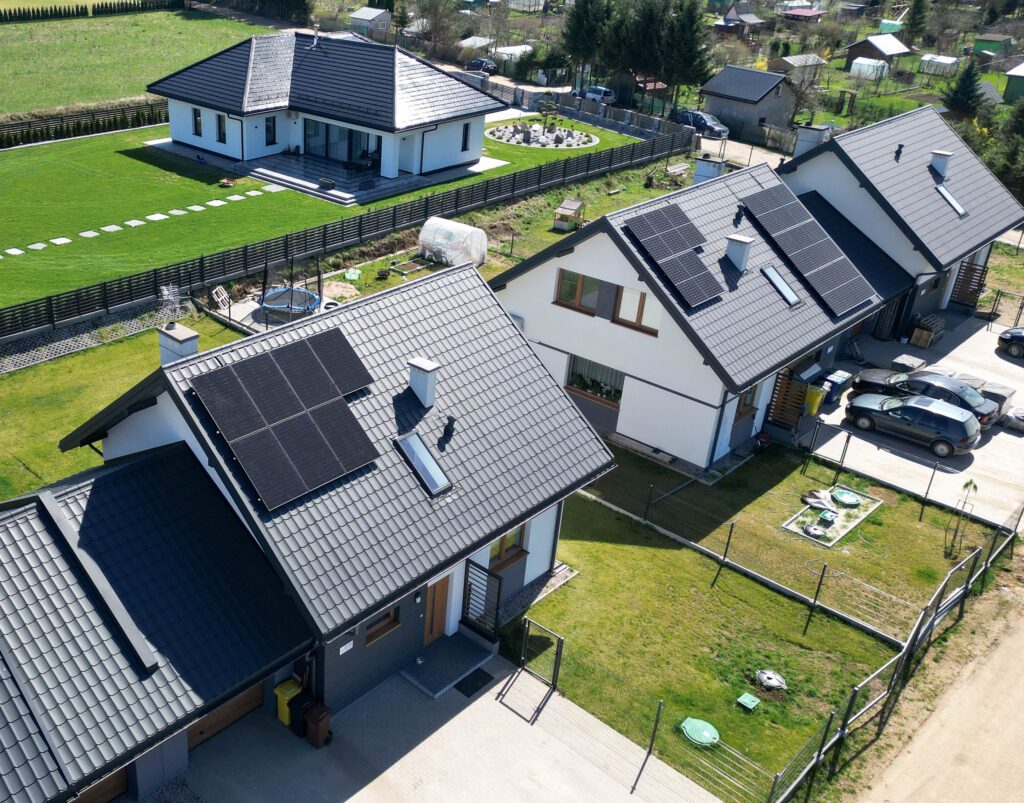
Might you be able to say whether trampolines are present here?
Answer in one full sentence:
Yes, a trampoline can be made out from above.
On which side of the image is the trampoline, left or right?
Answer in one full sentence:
The trampoline is on the left side of the image.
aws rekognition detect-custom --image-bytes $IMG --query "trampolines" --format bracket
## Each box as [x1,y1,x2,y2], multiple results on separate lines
[255,248,323,325]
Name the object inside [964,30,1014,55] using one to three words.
shed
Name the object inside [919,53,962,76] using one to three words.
greenhouse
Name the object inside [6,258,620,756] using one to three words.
house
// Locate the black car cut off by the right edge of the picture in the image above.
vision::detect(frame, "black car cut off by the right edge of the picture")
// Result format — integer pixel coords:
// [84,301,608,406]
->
[998,319,1024,355]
